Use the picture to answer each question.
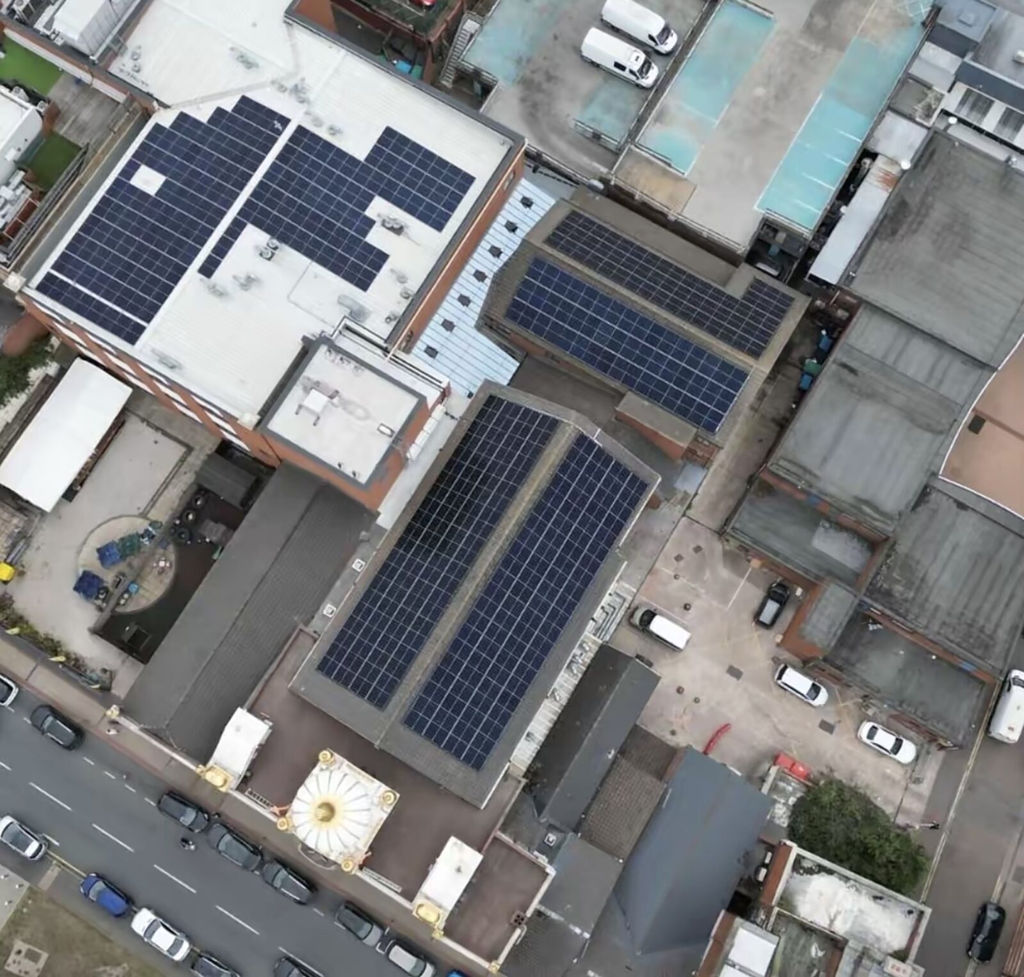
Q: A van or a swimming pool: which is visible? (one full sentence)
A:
There is a van in the scene.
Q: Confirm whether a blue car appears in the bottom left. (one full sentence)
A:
Yes, a blue car is visible in the bottom left.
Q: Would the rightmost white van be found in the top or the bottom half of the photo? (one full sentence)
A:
You can find the rightmost white van in the bottom half.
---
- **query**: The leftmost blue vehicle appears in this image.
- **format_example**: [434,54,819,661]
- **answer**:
[77,872,136,922]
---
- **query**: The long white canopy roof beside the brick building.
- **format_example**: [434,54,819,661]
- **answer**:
[0,357,142,521]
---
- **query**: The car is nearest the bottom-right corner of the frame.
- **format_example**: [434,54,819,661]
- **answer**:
[963,900,1004,964]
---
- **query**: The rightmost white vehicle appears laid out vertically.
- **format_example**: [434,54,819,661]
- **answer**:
[990,670,1024,741]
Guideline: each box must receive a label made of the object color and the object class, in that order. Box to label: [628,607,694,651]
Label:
white car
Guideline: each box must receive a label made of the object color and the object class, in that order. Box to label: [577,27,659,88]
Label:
white van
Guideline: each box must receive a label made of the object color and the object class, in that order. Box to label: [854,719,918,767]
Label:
white car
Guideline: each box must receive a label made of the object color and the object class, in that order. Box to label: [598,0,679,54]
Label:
white van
